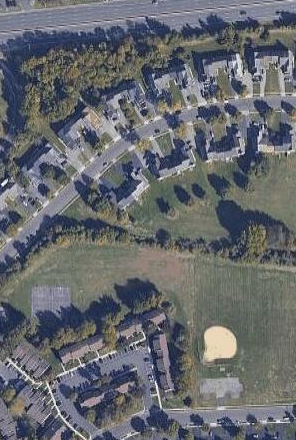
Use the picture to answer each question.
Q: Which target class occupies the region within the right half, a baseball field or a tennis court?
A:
baseball field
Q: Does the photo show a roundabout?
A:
No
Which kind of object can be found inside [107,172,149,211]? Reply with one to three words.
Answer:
house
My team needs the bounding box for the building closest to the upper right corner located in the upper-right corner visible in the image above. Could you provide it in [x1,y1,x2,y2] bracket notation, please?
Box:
[251,54,289,76]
